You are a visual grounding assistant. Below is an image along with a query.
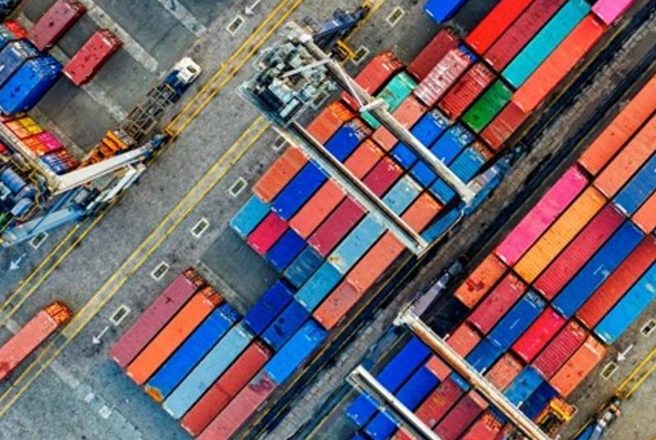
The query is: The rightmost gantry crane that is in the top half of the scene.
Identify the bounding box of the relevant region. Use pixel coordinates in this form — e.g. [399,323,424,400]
[235,0,530,260]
